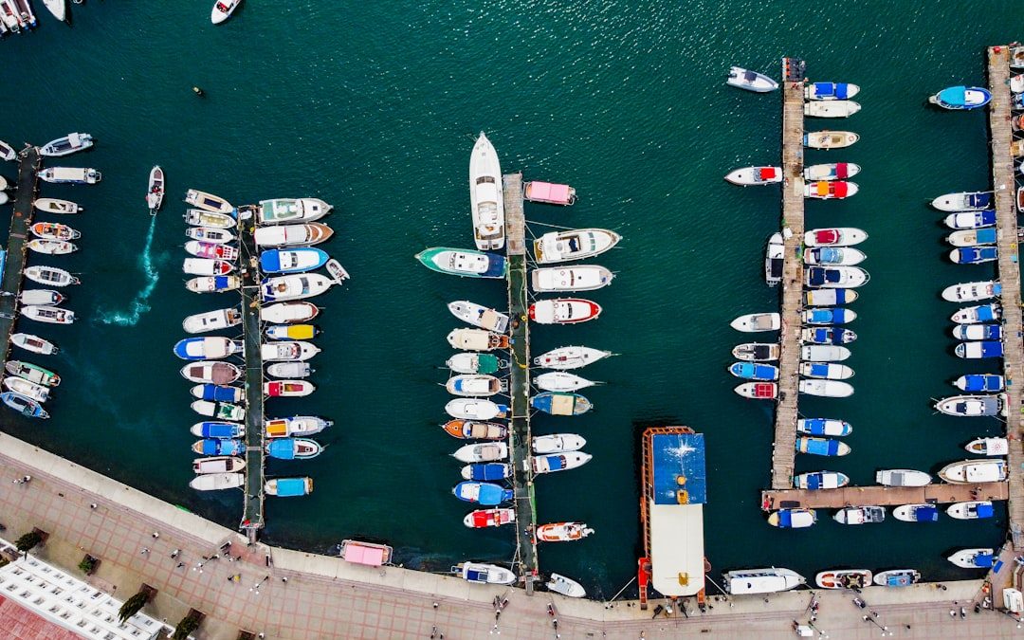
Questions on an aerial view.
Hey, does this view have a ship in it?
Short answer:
Yes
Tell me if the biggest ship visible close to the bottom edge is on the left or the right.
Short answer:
right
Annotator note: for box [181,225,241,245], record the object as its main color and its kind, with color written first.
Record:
white boat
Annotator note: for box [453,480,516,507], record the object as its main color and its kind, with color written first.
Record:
blue boat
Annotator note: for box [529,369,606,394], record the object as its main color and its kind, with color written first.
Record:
white boat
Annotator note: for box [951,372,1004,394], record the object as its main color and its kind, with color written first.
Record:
blue boat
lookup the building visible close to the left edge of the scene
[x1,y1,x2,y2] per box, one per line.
[0,555,167,640]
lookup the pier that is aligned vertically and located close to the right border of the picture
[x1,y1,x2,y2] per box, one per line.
[983,45,1024,542]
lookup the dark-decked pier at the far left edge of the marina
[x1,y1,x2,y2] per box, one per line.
[0,144,42,405]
